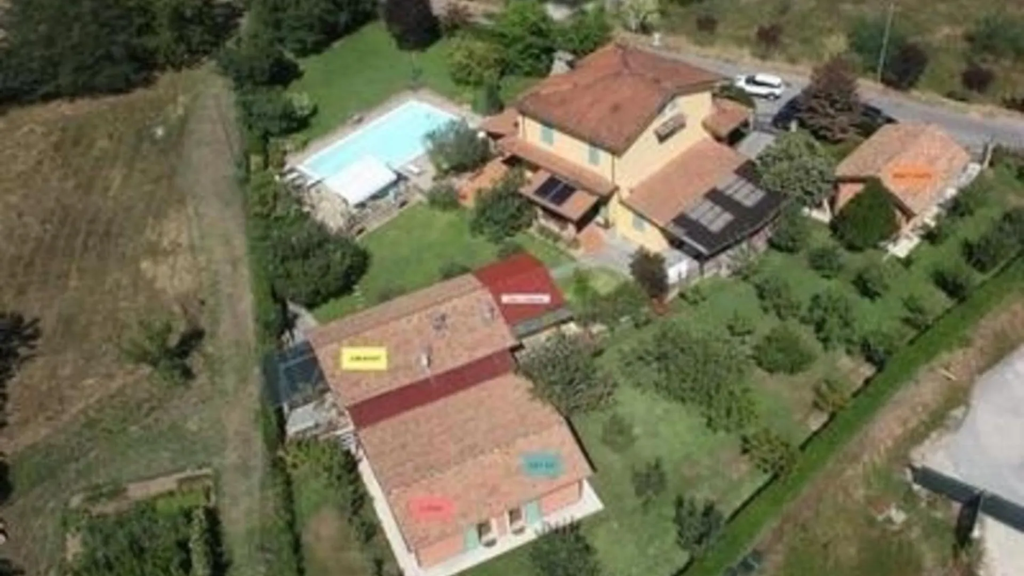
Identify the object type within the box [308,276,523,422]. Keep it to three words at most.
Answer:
building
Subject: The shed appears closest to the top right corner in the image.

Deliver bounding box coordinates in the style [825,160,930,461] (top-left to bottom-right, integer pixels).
[835,122,969,235]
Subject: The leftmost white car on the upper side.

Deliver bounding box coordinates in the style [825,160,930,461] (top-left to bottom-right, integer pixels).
[740,73,786,98]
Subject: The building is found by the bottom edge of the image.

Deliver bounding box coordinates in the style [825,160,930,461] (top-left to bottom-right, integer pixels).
[353,369,595,574]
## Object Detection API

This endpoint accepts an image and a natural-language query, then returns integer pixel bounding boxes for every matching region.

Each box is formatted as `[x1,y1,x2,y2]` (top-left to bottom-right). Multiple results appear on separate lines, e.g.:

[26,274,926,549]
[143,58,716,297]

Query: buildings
[479,48,751,256]
[353,369,595,574]
[835,122,969,235]
[308,276,523,422]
